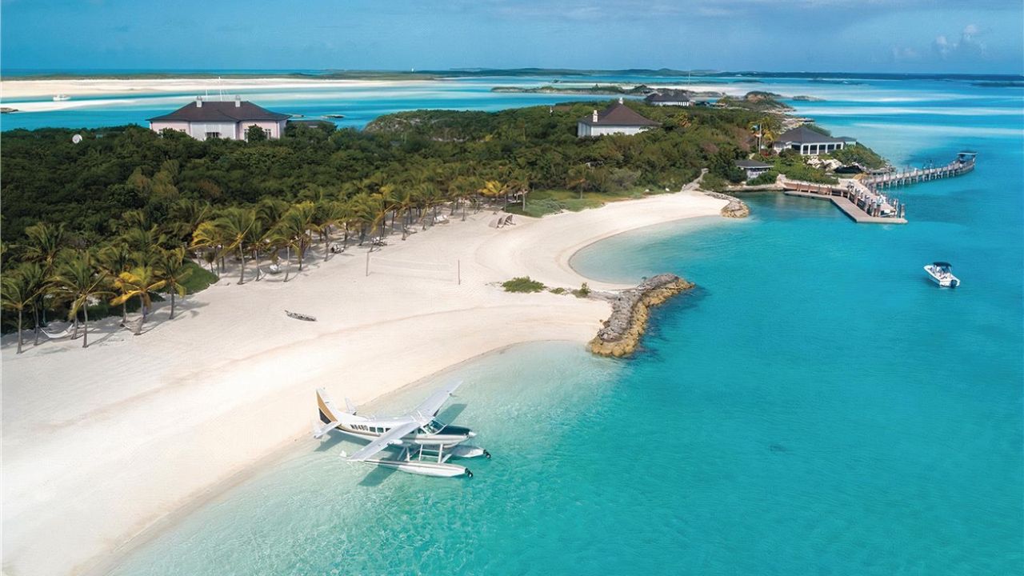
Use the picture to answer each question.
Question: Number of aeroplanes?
1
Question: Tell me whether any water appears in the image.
Yes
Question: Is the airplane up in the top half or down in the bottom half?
bottom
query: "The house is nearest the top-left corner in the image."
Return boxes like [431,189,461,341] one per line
[141,96,290,138]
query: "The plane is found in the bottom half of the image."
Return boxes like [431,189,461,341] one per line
[307,373,491,479]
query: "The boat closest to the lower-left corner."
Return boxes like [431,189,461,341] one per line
[281,306,317,320]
